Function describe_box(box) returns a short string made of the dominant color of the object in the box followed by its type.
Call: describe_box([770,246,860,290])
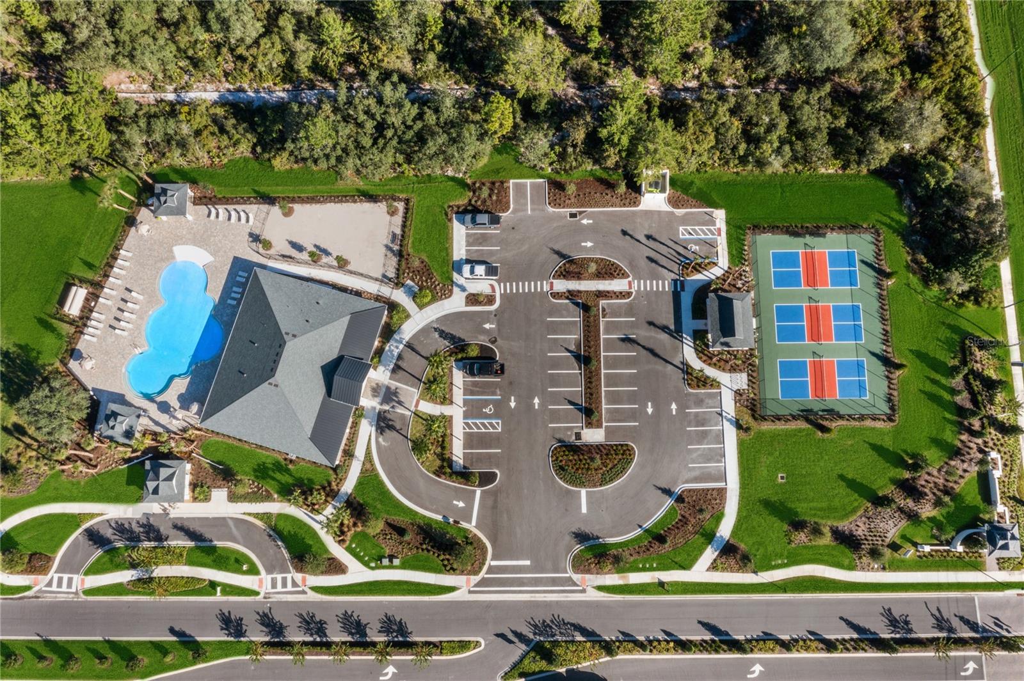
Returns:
blue sports court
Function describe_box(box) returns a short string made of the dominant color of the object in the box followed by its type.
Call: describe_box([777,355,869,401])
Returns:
blue sports court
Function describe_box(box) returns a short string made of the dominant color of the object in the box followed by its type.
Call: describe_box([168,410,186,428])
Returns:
white umbrella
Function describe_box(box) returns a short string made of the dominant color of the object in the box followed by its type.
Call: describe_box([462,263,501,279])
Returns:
white vehicle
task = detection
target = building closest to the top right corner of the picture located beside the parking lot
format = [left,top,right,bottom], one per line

[704,292,755,351]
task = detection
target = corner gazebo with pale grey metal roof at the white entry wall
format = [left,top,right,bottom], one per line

[973,523,1023,557]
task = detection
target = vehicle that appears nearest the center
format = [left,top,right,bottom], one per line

[463,360,503,376]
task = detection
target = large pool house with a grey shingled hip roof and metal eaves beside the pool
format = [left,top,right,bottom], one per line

[197,267,389,467]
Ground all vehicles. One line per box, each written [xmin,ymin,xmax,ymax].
[463,360,503,376]
[462,263,501,279]
[463,212,502,228]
